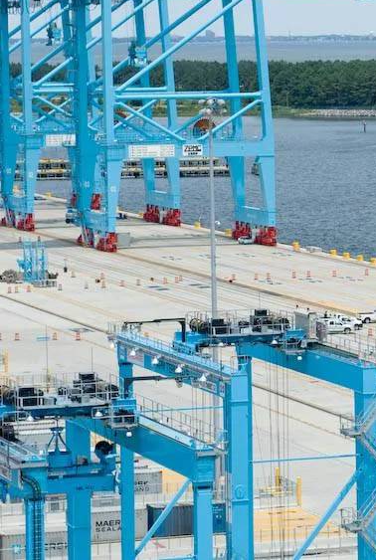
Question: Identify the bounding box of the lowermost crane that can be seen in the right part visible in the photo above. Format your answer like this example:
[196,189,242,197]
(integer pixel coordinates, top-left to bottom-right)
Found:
[83,263,376,560]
